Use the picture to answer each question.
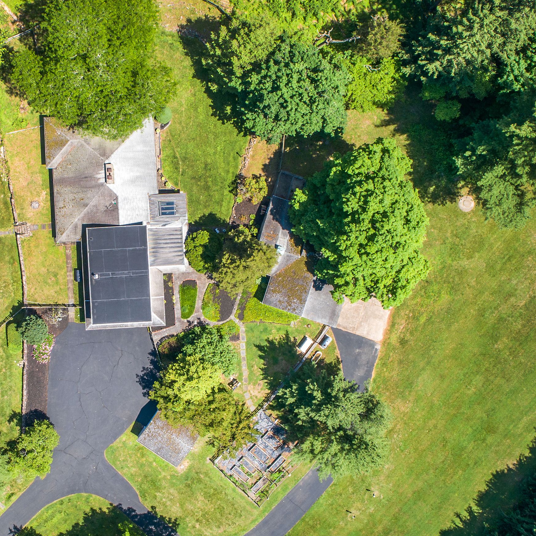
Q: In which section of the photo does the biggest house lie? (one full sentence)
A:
The biggest house sits in the left section of the image.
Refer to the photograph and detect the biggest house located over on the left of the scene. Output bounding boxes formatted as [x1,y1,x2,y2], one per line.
[44,112,192,330]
